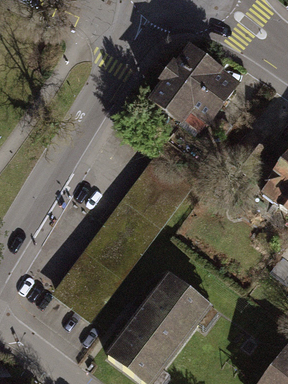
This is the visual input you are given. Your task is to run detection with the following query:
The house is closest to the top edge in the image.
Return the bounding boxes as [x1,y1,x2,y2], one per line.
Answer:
[148,42,247,140]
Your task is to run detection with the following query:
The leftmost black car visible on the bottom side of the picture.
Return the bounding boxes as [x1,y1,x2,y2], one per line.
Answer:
[10,230,26,252]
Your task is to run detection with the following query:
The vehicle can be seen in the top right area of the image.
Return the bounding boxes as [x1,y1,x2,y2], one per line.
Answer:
[208,18,232,34]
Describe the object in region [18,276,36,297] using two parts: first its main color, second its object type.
white car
